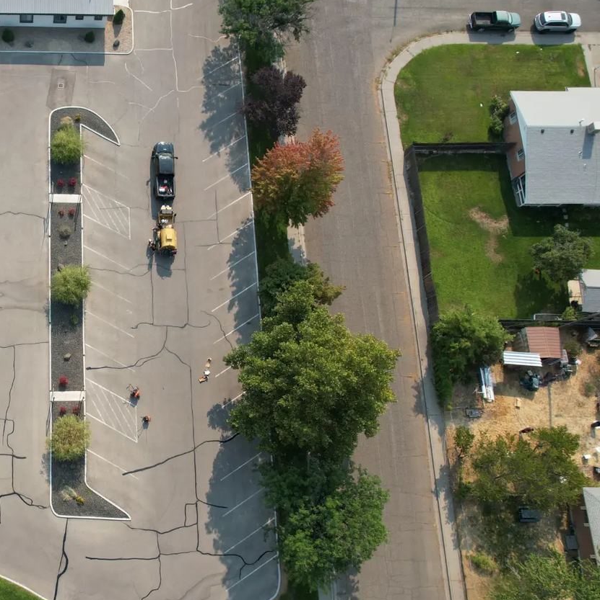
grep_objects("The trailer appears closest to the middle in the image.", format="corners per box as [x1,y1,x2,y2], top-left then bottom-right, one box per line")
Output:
[155,201,178,257]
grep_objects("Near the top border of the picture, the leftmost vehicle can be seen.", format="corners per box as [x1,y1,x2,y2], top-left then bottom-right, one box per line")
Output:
[465,8,520,32]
